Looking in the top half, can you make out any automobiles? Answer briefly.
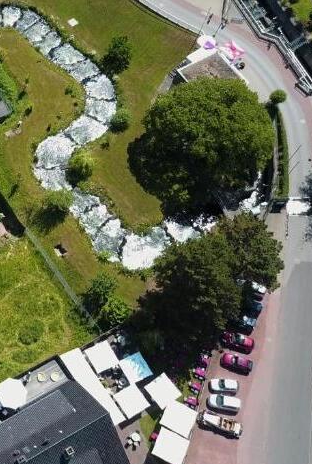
No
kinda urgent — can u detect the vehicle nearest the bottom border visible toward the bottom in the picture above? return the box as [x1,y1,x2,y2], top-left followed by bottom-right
[201,414,241,437]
